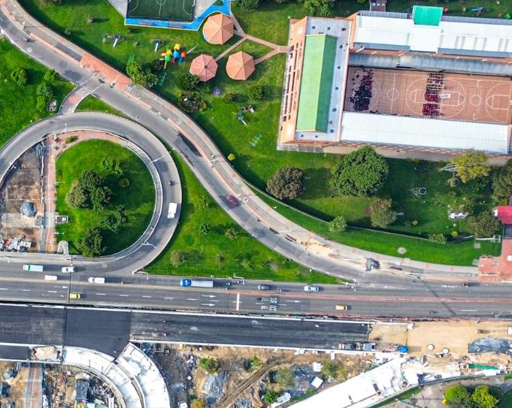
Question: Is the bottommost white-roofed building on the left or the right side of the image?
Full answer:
The bottommost white-roofed building appears in the right half of the scene.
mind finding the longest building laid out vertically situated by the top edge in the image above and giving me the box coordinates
[281,16,352,147]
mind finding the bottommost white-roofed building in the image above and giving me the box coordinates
[330,111,512,162]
